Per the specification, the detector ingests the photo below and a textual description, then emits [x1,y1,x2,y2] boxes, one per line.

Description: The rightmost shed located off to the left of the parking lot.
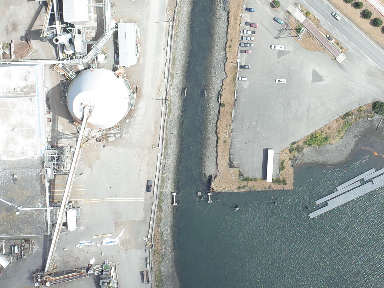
[117,22,138,66]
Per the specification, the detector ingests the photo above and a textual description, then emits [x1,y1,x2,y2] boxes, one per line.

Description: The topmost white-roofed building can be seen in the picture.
[62,0,98,22]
